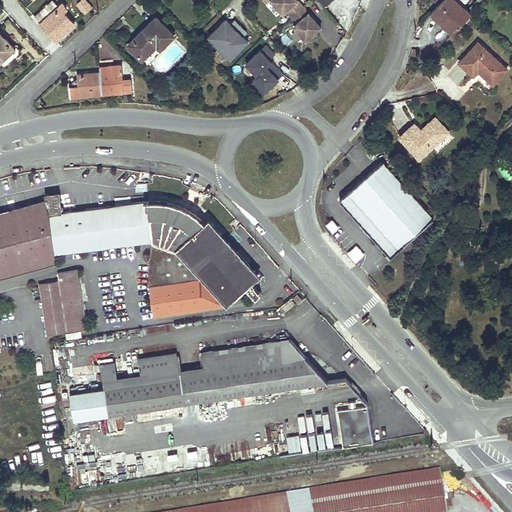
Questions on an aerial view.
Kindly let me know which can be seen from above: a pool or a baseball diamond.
pool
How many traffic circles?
1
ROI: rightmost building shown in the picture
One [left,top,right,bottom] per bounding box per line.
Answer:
[458,37,508,88]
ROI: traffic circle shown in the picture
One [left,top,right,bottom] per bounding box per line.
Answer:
[218,114,318,214]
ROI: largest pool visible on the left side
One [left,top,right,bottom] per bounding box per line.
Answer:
[153,40,186,72]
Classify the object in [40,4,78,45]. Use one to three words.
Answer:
house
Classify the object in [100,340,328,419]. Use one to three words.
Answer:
building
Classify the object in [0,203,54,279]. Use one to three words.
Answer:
building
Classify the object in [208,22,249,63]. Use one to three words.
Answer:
house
